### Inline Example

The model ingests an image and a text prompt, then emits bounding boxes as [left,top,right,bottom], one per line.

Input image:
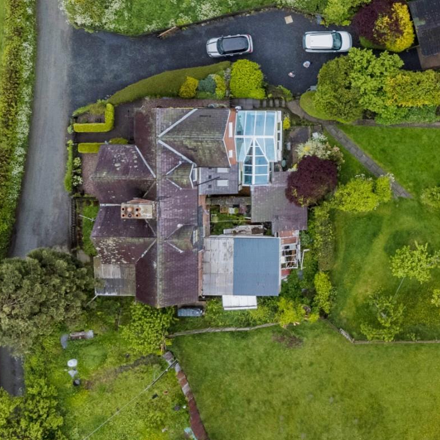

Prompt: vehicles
[207,34,255,58]
[304,30,352,53]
